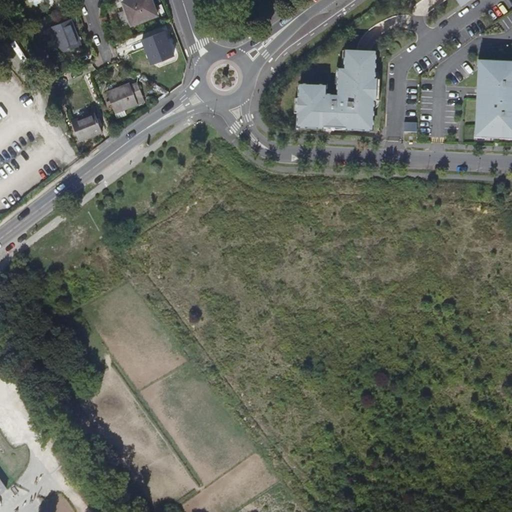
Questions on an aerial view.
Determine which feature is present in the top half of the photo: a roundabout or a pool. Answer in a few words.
roundabout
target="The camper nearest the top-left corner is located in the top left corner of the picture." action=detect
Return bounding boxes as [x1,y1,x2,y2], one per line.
[12,42,28,60]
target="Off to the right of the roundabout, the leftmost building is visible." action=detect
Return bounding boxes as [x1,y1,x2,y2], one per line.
[294,50,380,132]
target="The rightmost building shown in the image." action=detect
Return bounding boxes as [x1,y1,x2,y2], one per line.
[476,60,512,140]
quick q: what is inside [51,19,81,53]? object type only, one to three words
house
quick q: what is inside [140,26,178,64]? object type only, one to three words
house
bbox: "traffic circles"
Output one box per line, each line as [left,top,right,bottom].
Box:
[186,50,256,118]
